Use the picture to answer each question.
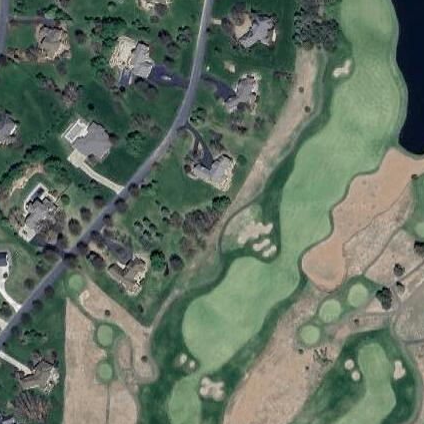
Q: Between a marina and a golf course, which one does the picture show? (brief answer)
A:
golf course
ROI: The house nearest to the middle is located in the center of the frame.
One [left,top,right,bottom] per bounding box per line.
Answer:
[191,152,235,190]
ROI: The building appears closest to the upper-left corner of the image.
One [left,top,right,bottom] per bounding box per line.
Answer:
[37,25,69,60]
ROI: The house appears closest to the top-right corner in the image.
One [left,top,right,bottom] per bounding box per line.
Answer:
[234,12,276,49]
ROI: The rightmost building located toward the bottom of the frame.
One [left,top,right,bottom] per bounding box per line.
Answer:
[105,255,148,295]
